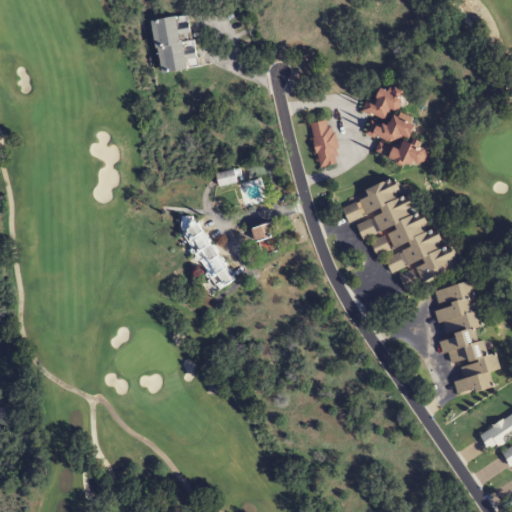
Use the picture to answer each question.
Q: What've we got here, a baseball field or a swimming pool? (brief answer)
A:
swimming pool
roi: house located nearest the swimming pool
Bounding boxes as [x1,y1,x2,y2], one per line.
[216,168,243,186]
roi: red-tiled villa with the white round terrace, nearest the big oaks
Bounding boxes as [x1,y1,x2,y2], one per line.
[362,86,408,119]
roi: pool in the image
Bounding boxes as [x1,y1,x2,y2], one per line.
[241,178,266,206]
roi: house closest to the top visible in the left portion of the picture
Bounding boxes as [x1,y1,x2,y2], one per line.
[151,16,198,74]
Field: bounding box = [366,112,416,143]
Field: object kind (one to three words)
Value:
house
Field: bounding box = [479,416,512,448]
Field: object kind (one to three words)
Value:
house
